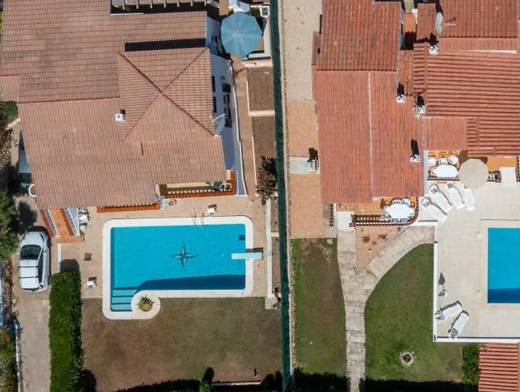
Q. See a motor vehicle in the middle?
No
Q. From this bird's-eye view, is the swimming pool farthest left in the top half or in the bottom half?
bottom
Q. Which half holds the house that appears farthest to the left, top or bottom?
top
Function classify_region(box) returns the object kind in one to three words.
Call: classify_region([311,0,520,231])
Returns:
house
